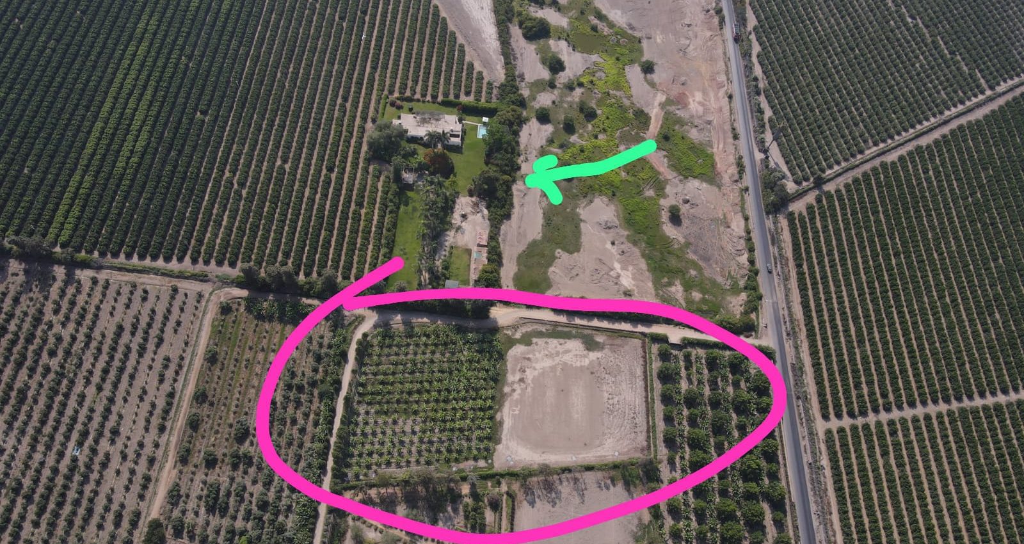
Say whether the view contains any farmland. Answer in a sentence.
Yes, there's farmland in this view.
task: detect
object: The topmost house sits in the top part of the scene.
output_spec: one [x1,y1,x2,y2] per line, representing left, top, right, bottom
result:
[393,114,461,147]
